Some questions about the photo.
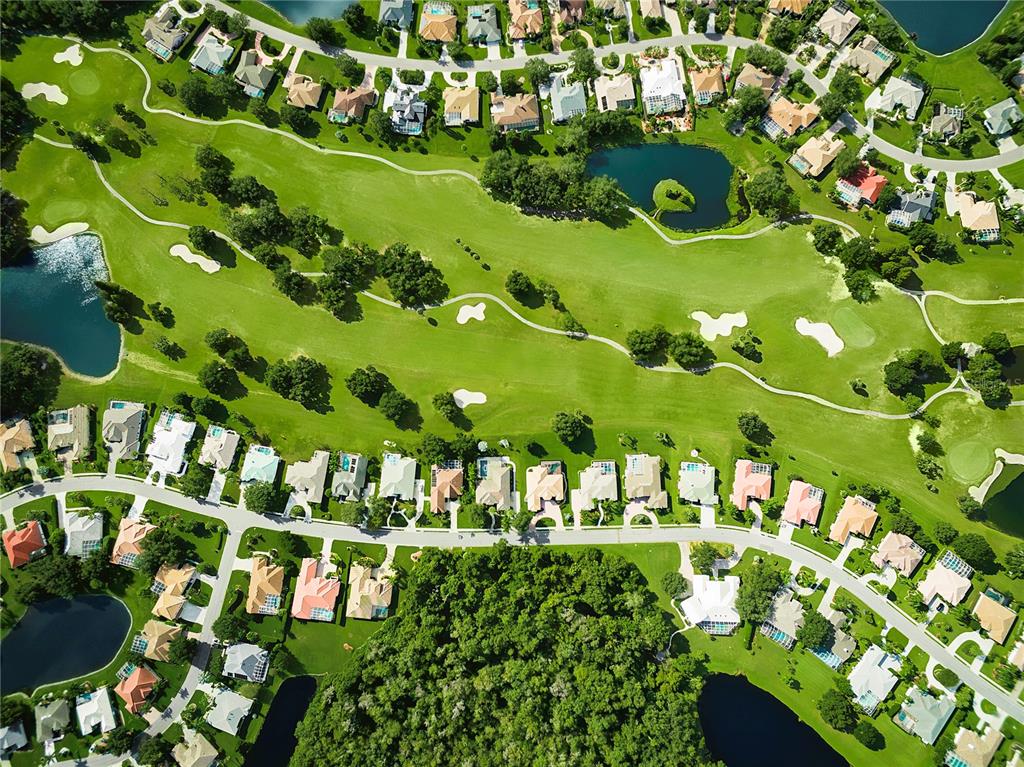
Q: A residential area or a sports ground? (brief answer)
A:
residential area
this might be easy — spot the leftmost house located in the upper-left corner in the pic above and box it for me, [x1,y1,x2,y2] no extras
[141,7,190,63]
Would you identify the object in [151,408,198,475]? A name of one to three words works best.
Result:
house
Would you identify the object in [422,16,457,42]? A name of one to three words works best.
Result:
house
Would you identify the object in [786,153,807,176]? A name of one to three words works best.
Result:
swimming pool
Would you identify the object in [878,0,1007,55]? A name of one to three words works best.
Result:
pond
